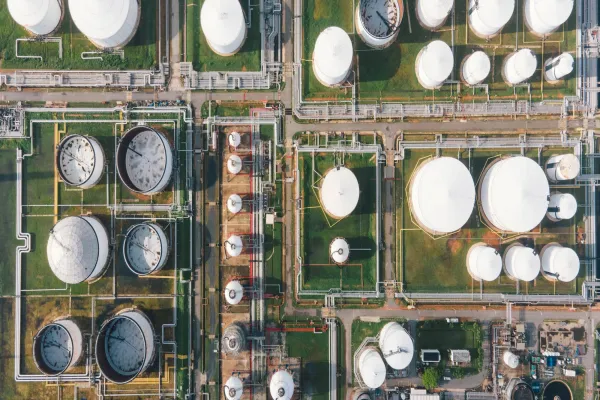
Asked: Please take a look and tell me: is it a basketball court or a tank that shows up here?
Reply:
tank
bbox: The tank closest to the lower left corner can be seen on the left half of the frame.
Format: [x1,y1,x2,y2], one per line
[31,315,84,378]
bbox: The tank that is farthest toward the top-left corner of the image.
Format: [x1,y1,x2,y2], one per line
[7,0,64,40]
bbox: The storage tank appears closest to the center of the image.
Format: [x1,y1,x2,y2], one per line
[318,165,359,219]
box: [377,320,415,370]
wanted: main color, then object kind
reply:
white storage tank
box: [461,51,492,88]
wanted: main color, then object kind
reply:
white storage tank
